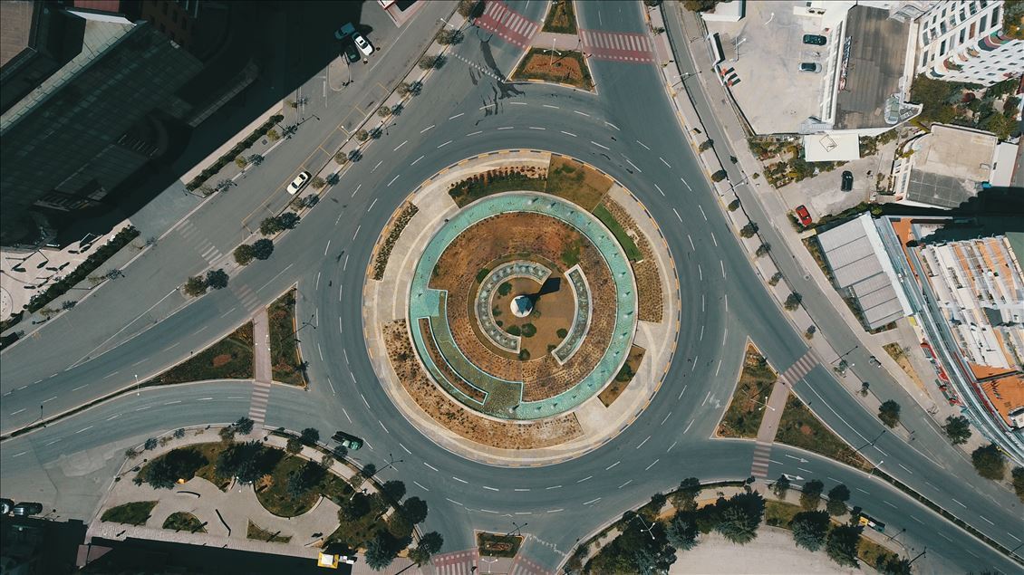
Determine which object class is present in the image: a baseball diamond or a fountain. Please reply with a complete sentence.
This aerial view contains a fountain.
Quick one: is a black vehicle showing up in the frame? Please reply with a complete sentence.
Yes, this view includes a black vehicle.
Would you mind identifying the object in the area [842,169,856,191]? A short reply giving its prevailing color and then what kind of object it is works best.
black car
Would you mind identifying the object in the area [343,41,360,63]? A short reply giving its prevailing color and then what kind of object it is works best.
black car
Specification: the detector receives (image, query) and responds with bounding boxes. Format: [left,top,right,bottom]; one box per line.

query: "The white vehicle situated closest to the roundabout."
[287,169,307,194]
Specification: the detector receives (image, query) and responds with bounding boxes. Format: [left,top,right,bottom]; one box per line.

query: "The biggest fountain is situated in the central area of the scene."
[406,189,640,423]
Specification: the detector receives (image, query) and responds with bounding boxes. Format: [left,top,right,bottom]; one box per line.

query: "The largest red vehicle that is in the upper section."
[796,203,814,227]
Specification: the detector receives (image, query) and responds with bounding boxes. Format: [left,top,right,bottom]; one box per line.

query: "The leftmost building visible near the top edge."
[0,0,203,219]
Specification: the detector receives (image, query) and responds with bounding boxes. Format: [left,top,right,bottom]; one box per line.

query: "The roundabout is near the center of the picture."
[298,84,745,532]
